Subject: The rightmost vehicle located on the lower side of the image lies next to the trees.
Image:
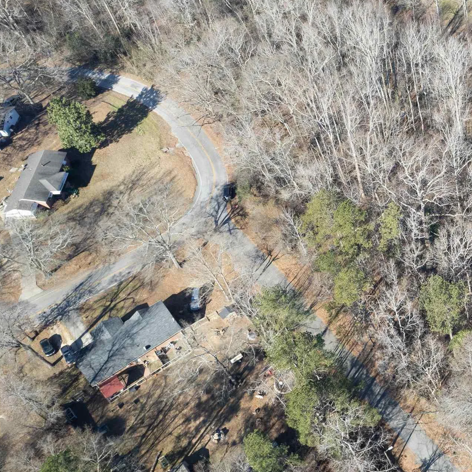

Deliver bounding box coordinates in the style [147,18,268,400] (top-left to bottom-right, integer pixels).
[188,285,202,312]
